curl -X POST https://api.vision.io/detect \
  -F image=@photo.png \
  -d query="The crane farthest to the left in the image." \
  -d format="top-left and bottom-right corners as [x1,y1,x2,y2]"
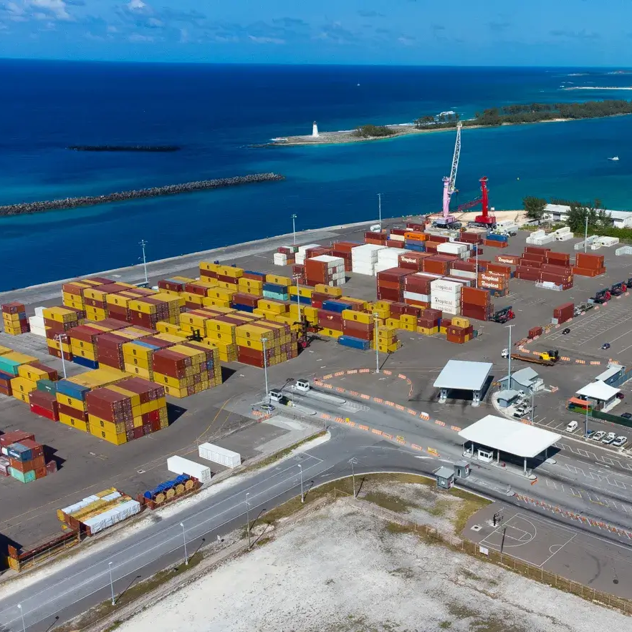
[430,121,462,228]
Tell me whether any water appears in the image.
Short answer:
Yes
